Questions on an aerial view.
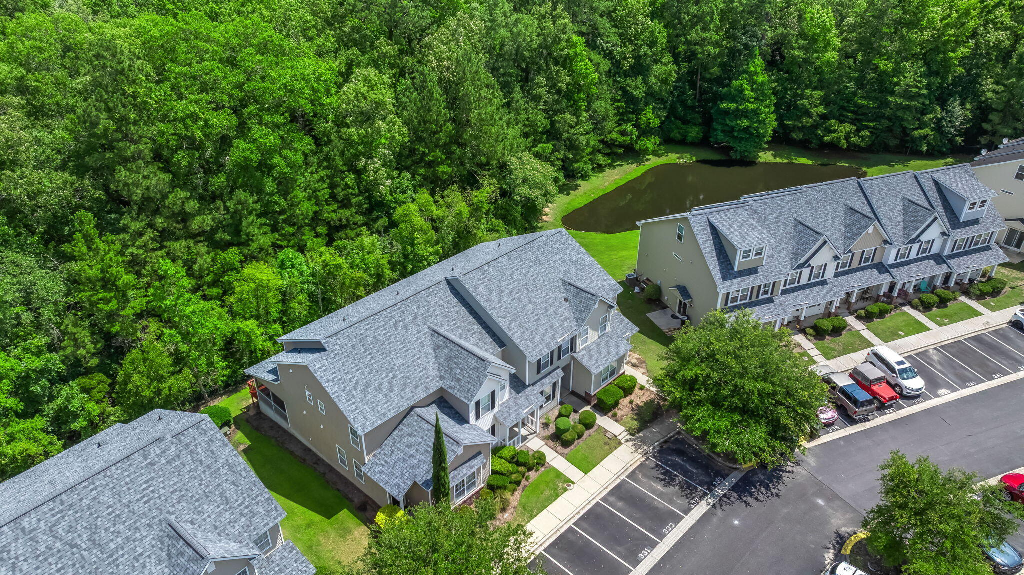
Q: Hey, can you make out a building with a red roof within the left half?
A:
No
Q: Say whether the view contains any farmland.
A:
No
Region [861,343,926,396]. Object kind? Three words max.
car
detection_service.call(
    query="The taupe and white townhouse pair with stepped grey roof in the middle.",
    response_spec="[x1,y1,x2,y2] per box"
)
[245,226,640,524]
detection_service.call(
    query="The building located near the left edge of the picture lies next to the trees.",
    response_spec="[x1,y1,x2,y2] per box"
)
[0,408,318,575]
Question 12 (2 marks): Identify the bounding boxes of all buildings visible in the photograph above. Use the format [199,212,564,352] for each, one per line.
[0,408,318,575]
[245,226,640,524]
[635,163,1013,338]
